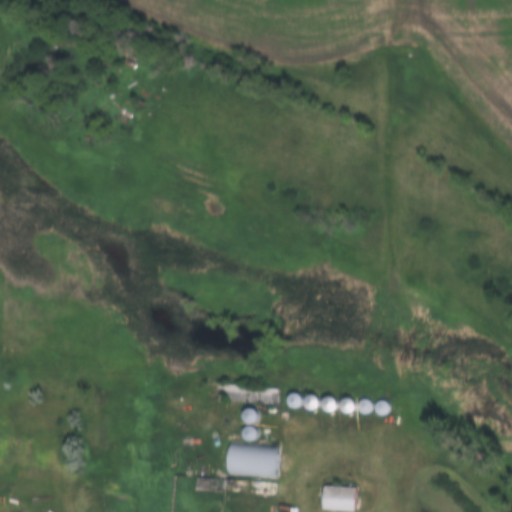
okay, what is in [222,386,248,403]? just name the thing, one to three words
shed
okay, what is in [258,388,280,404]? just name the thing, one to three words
shed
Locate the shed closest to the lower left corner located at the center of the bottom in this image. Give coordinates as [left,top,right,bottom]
[197,478,228,493]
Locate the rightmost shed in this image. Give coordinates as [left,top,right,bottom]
[322,486,358,512]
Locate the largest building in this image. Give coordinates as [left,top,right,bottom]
[227,444,283,480]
